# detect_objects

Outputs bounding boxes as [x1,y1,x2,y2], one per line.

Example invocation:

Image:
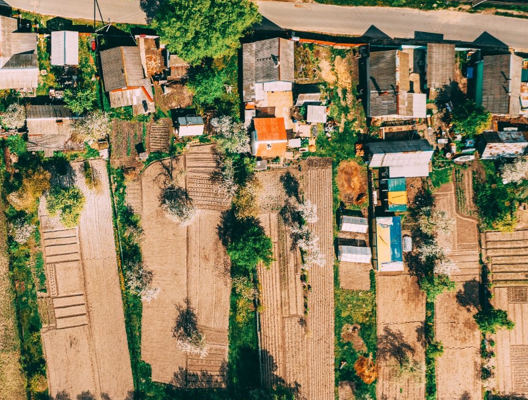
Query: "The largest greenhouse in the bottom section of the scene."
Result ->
[372,216,403,271]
